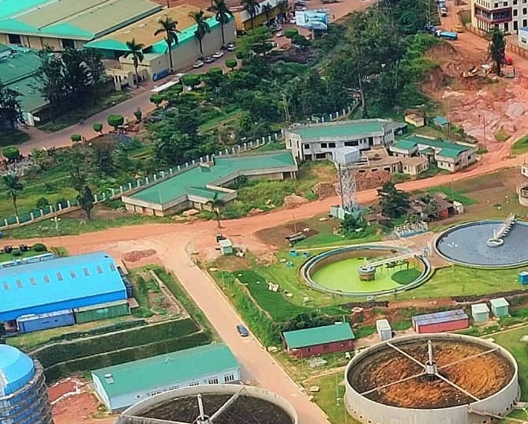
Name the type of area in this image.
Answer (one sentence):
The area seen from above is an industrial area.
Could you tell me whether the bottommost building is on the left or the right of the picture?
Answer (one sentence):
It is on the left.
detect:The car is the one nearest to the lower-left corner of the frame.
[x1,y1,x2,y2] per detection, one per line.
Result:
[235,322,248,335]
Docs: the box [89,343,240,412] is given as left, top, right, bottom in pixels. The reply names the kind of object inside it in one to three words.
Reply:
building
